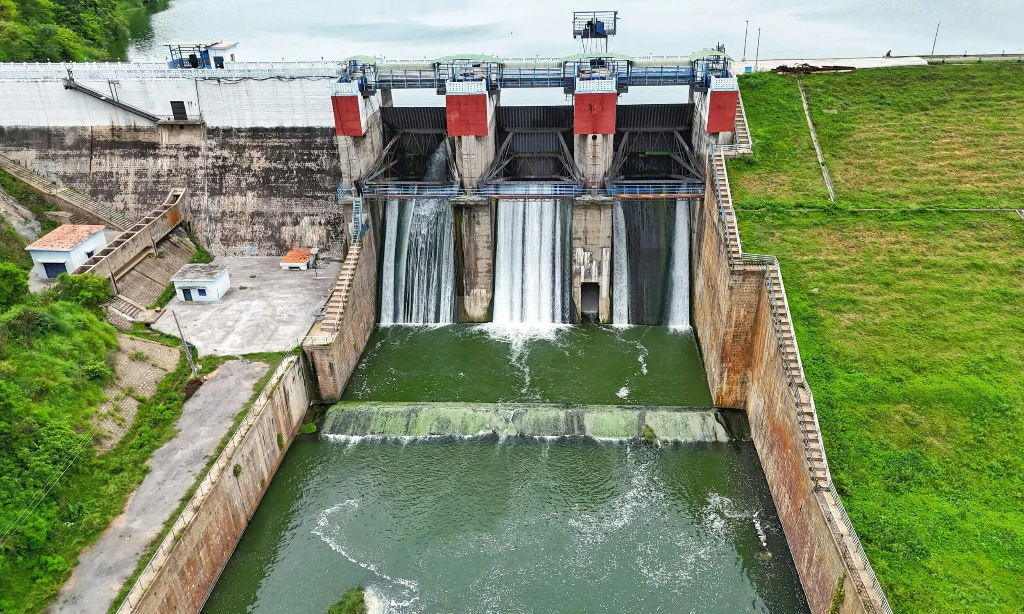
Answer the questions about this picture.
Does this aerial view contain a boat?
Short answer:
No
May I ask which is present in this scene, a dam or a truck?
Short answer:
dam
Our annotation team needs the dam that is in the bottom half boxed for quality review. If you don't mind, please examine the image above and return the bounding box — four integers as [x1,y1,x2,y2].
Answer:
[323,399,751,443]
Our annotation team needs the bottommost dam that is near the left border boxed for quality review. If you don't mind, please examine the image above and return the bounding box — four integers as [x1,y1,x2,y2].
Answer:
[0,76,346,259]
